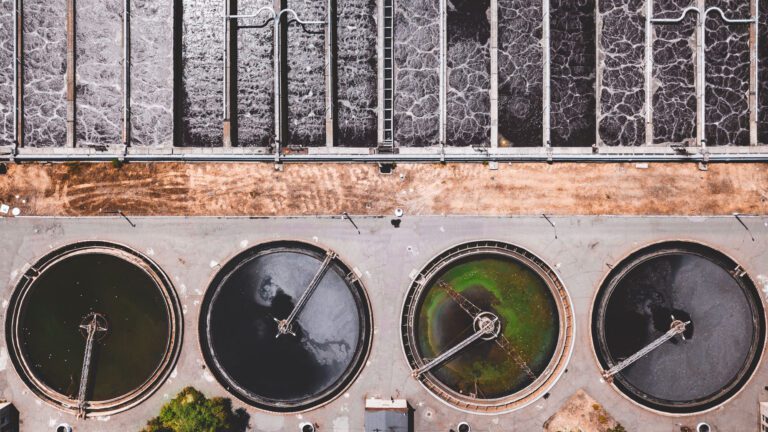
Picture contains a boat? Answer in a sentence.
No, no boat can be seen from above.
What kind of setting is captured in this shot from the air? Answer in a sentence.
This image shows an industrial area.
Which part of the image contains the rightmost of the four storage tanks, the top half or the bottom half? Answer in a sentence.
The bottom half of the photo is where the rightmost of the four storage tanks is.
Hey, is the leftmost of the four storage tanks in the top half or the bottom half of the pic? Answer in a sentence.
The bottom half of the photo is where the leftmost of the four storage tanks is.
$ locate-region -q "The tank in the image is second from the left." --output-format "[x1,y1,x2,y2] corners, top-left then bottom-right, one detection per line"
[199,240,373,414]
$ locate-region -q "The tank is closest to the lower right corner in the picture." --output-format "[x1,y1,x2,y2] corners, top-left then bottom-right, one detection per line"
[592,240,766,414]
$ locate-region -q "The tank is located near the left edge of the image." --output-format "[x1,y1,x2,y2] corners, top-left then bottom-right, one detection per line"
[4,240,182,418]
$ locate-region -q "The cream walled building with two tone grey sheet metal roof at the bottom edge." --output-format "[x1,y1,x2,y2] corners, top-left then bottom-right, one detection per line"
[365,399,408,432]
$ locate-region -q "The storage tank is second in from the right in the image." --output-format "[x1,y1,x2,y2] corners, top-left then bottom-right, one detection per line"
[400,240,574,414]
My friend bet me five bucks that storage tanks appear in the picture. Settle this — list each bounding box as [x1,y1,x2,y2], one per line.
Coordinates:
[592,240,766,414]
[199,240,373,414]
[400,240,574,414]
[4,240,182,418]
